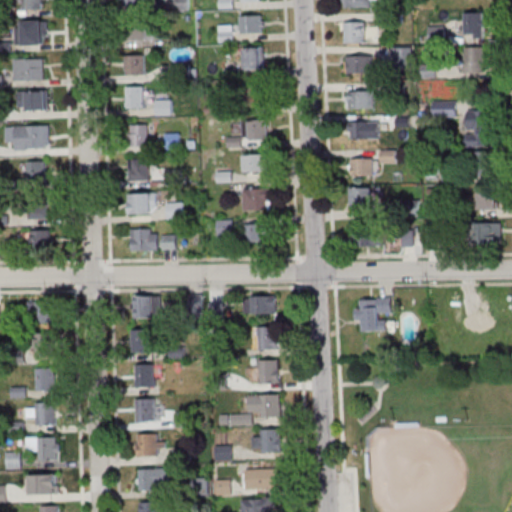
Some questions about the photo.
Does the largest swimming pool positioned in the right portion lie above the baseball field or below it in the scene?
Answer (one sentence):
Relative to the baseball field, the largest swimming pool positioned in the right portion lies above it.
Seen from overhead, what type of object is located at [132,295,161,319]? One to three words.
house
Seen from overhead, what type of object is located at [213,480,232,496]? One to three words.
building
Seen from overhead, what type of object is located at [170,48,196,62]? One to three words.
swimming pool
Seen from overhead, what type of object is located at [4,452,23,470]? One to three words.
building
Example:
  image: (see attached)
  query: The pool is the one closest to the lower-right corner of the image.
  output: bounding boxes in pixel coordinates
[400,311,420,344]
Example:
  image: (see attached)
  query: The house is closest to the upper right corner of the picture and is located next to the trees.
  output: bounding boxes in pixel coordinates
[462,12,483,45]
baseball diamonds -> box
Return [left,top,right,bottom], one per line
[370,428,512,512]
